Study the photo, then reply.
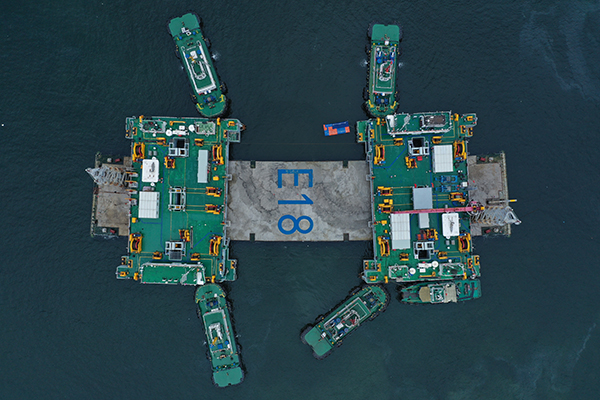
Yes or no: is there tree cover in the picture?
No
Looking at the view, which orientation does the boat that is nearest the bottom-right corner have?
horizontally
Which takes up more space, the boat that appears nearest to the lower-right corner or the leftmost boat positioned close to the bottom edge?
the leftmost boat positioned close to the bottom edge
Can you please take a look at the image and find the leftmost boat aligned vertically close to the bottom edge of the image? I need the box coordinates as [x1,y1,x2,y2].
[195,282,248,392]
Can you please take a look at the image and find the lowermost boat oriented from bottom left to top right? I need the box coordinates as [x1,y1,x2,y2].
[298,281,391,361]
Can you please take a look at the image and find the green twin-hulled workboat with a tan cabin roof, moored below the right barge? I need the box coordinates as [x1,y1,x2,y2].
[400,279,482,305]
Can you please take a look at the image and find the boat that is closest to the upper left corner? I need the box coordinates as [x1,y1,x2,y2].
[166,11,231,118]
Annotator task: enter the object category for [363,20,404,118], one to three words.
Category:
boat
